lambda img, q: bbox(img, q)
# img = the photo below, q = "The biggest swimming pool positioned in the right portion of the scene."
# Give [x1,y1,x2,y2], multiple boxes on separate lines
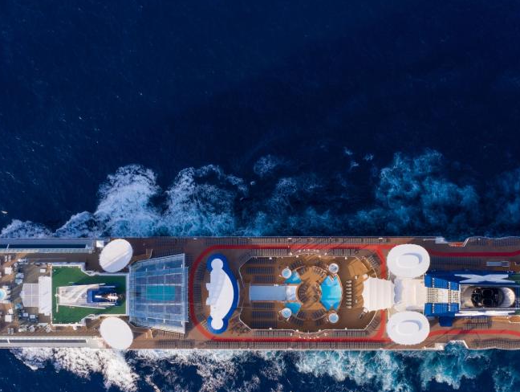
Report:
[320,274,343,312]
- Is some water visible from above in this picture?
Yes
